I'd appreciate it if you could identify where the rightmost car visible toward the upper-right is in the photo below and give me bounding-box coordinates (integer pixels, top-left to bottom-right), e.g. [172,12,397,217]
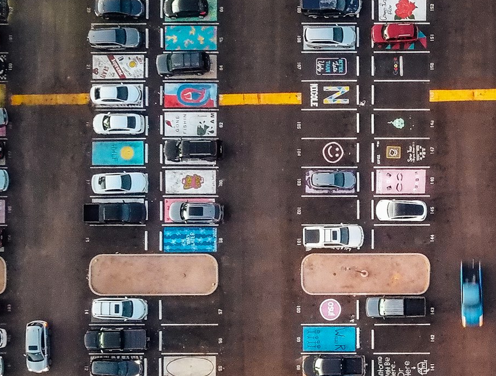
[371,18,418,44]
